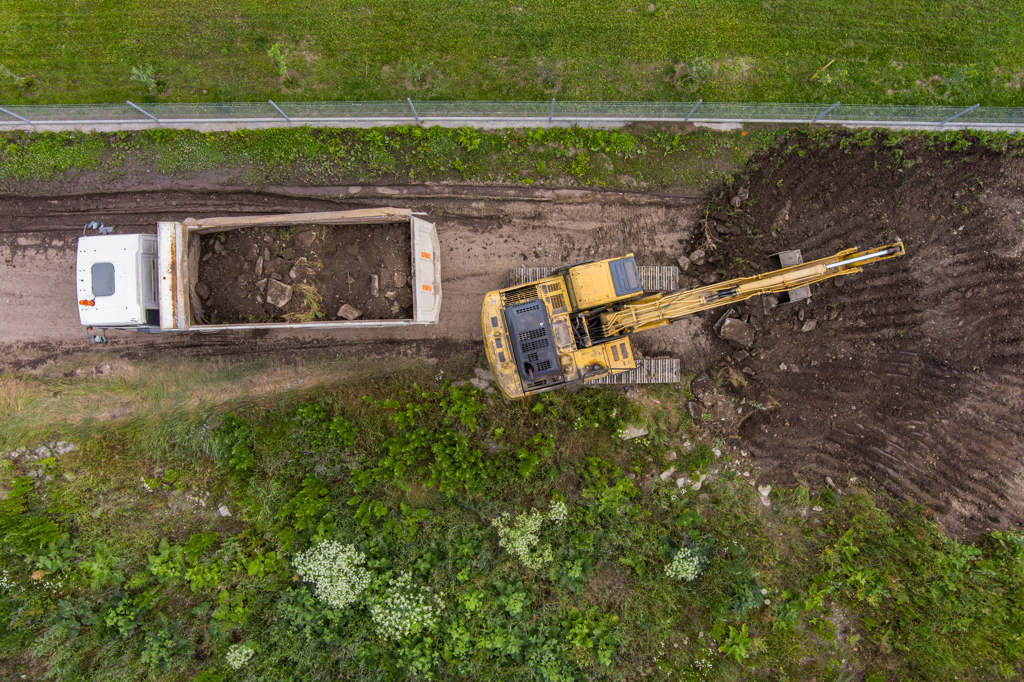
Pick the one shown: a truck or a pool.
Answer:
truck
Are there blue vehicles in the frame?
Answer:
No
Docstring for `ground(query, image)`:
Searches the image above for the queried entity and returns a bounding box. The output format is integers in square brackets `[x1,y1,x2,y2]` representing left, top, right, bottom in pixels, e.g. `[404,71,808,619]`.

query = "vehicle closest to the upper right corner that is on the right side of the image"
[481,242,904,400]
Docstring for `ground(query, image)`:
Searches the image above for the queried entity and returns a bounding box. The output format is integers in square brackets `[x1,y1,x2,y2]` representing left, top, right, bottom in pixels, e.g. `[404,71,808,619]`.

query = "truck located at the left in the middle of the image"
[78,207,443,343]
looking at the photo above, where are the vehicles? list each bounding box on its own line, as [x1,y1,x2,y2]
[481,242,904,400]
[78,207,443,343]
